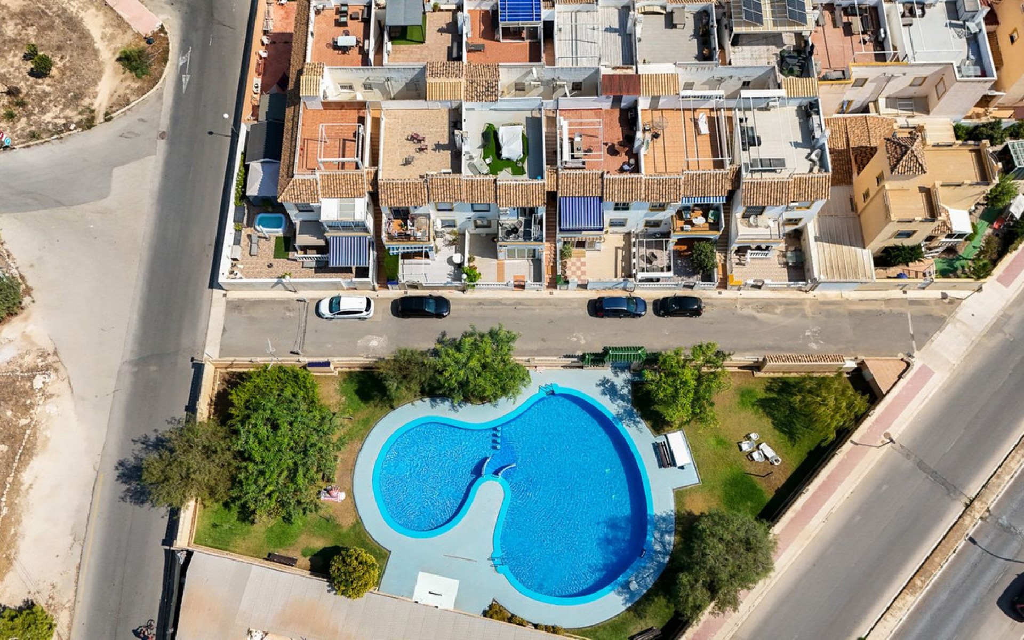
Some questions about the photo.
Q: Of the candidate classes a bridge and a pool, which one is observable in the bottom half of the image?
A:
pool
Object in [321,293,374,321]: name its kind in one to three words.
car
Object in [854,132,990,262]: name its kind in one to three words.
house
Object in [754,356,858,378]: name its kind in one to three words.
shed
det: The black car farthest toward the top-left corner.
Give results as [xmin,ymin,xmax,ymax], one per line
[399,292,450,320]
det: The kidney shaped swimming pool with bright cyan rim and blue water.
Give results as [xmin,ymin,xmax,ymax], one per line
[372,383,654,604]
